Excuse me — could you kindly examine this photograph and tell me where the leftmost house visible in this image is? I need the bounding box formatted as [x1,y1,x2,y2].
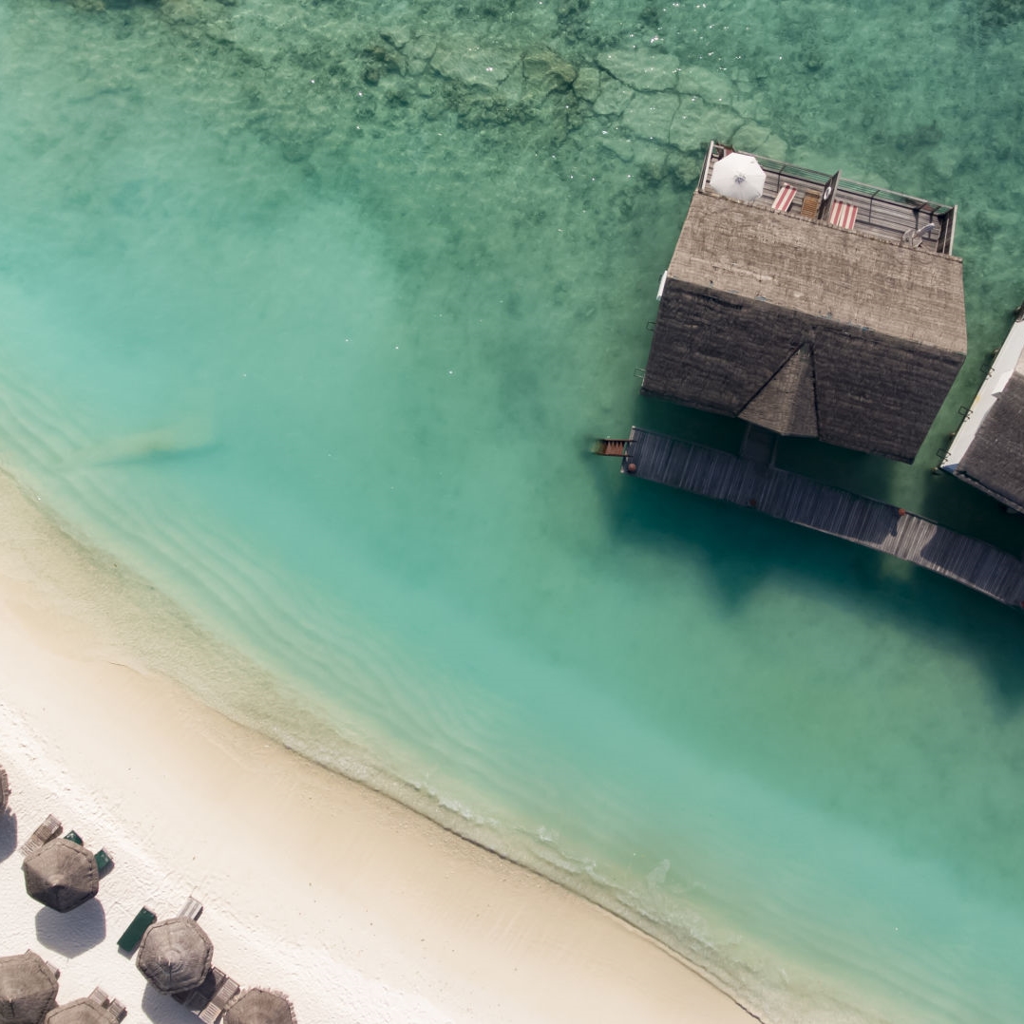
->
[632,140,972,461]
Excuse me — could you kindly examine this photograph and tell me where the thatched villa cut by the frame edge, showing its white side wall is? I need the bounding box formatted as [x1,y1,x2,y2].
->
[924,312,1024,519]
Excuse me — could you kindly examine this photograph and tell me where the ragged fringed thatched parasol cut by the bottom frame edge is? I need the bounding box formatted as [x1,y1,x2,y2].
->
[220,984,299,1024]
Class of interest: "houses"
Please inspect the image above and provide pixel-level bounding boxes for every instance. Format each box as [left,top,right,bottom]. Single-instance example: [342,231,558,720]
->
[924,312,1024,519]
[632,140,972,461]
